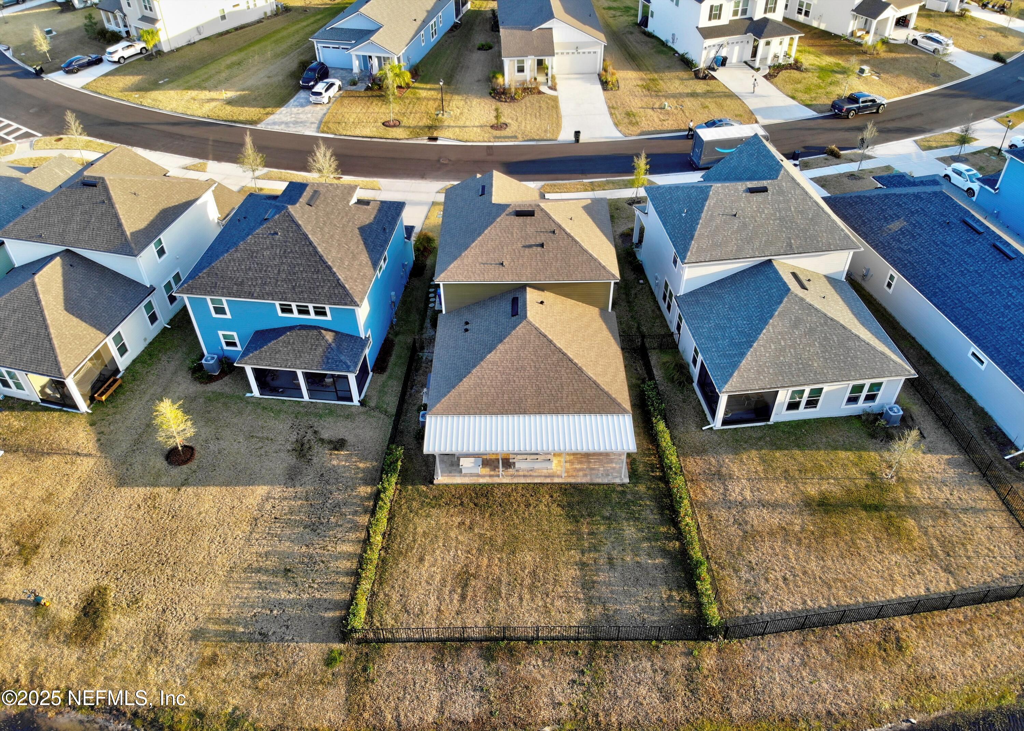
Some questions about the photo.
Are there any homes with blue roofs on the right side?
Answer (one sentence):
Yes, on the right side there is a home with a blue roof.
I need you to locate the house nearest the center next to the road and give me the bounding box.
[426,171,632,418]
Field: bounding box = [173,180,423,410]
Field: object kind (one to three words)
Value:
house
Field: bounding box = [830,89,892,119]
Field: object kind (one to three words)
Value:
truck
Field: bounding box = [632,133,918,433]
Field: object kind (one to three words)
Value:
house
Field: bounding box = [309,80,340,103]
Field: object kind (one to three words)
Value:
car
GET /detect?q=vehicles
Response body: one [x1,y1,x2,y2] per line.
[309,80,340,103]
[56,53,101,73]
[682,119,767,168]
[101,40,146,64]
[942,158,984,193]
[830,89,892,119]
[301,57,325,83]
[985,0,1013,12]
[1003,132,1024,149]
[912,30,958,54]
